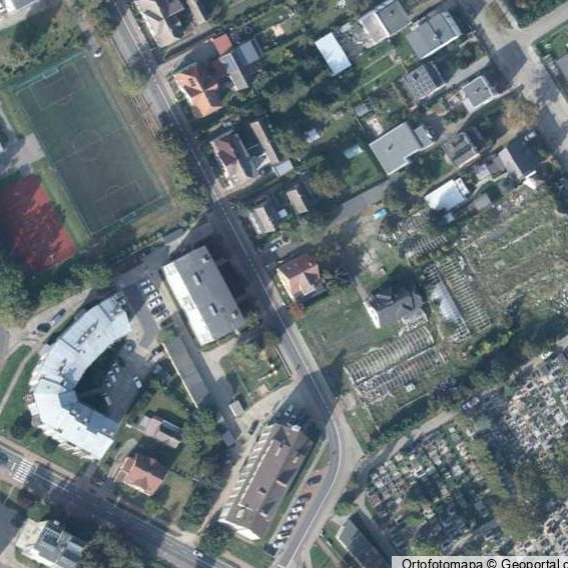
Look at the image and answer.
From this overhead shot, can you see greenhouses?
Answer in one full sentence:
Yes, the frame does contain a greenhouse.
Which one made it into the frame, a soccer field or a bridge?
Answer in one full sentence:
It is a soccer field that can be seen here.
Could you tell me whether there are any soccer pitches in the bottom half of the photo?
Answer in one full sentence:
No, I can find no soccer pitch in the bottom half of the photo.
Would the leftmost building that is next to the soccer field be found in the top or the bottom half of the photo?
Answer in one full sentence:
The leftmost building that is next to the soccer field sits in the bottom half of the picture.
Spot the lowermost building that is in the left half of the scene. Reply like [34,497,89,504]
[16,518,86,568]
